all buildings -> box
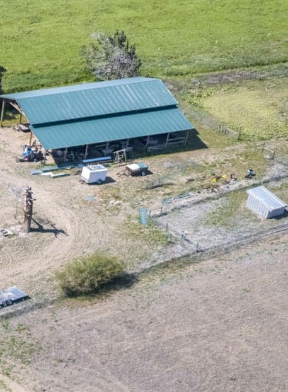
[248,184,288,219]
[2,75,195,161]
